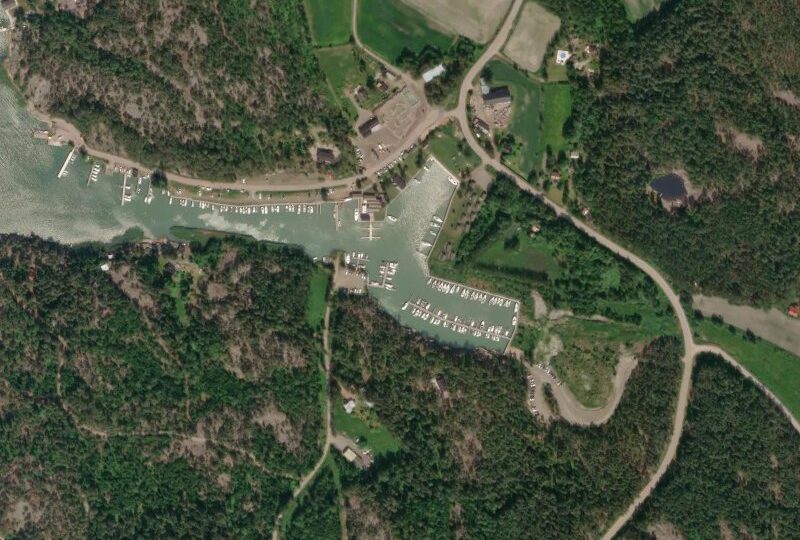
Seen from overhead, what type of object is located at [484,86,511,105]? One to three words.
barn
